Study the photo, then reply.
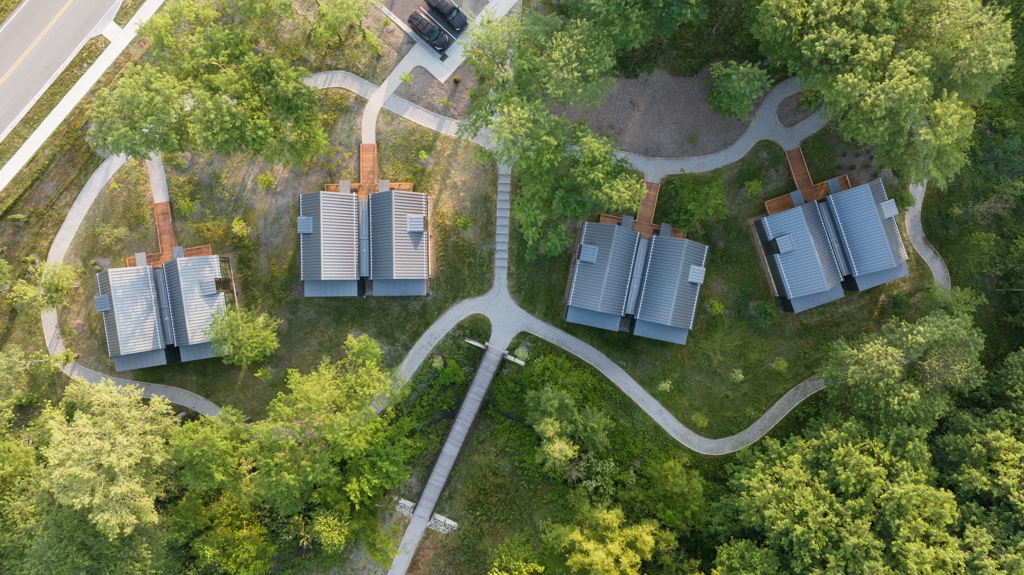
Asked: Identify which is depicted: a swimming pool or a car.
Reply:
car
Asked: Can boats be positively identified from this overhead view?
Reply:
No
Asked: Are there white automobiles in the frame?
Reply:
No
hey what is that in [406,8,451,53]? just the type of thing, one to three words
car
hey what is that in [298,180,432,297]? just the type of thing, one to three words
building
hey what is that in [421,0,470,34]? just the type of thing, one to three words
truck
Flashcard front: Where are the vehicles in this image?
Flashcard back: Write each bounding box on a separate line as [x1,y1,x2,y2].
[421,0,470,34]
[406,8,451,53]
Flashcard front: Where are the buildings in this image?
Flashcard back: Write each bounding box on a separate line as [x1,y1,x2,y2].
[565,215,709,343]
[298,180,432,297]
[93,246,244,370]
[749,176,910,313]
